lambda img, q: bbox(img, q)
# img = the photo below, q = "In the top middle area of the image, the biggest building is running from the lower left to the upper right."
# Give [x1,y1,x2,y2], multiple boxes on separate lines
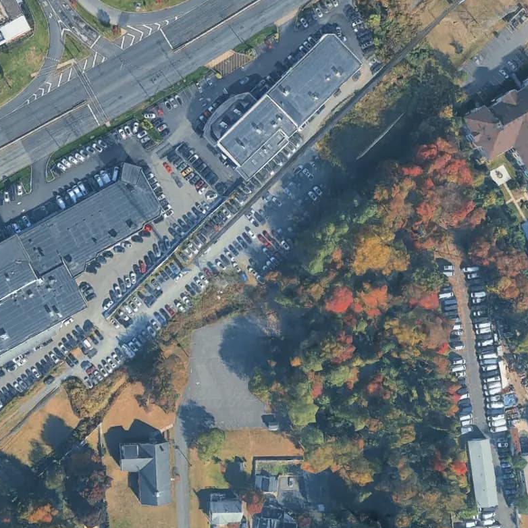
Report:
[216,35,362,180]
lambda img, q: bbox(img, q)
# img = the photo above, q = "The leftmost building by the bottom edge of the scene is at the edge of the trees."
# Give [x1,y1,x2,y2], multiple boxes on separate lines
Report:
[119,443,178,504]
